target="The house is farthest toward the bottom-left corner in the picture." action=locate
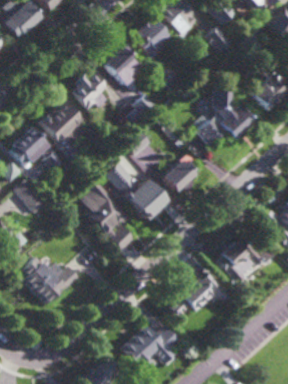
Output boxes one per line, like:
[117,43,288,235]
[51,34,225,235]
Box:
[24,254,76,300]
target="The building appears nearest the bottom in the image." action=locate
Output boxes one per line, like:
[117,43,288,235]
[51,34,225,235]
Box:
[120,326,178,366]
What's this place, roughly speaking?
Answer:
residential area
